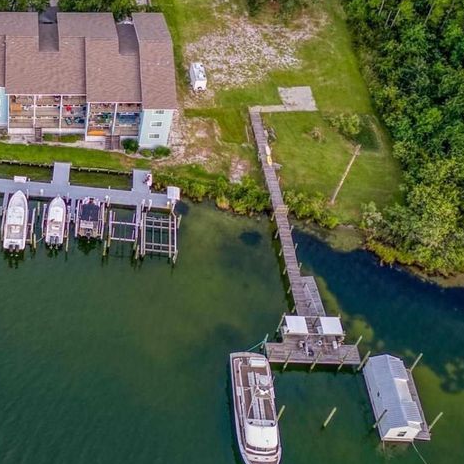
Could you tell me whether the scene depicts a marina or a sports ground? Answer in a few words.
marina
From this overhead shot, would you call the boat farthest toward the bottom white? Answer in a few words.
Yes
